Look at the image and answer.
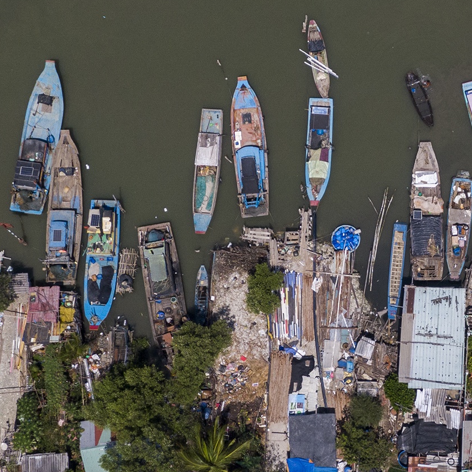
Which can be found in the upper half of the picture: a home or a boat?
boat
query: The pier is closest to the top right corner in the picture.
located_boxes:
[298,210,313,250]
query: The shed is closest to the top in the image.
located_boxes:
[27,286,73,322]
